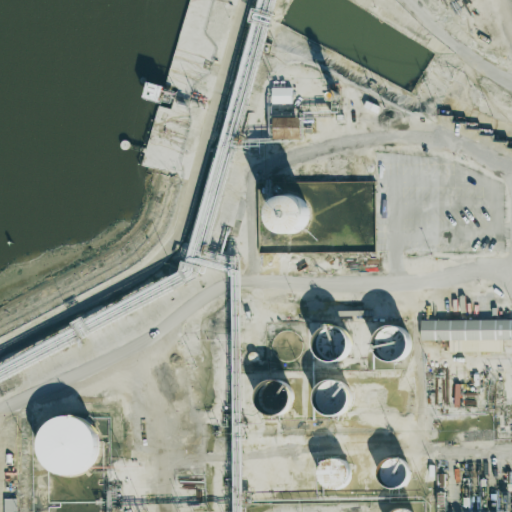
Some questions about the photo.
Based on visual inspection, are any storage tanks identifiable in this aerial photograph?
Yes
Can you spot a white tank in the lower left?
Yes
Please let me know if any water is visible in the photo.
Yes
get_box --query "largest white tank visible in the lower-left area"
[34,414,102,479]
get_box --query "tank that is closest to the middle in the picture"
[262,192,312,236]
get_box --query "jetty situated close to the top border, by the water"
[142,0,233,179]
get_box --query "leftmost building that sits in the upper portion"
[142,81,168,104]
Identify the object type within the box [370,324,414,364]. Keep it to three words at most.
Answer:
storage tank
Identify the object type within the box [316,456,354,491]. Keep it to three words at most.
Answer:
storage tank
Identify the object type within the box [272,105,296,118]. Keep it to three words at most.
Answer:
building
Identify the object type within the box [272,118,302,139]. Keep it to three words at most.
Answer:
building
